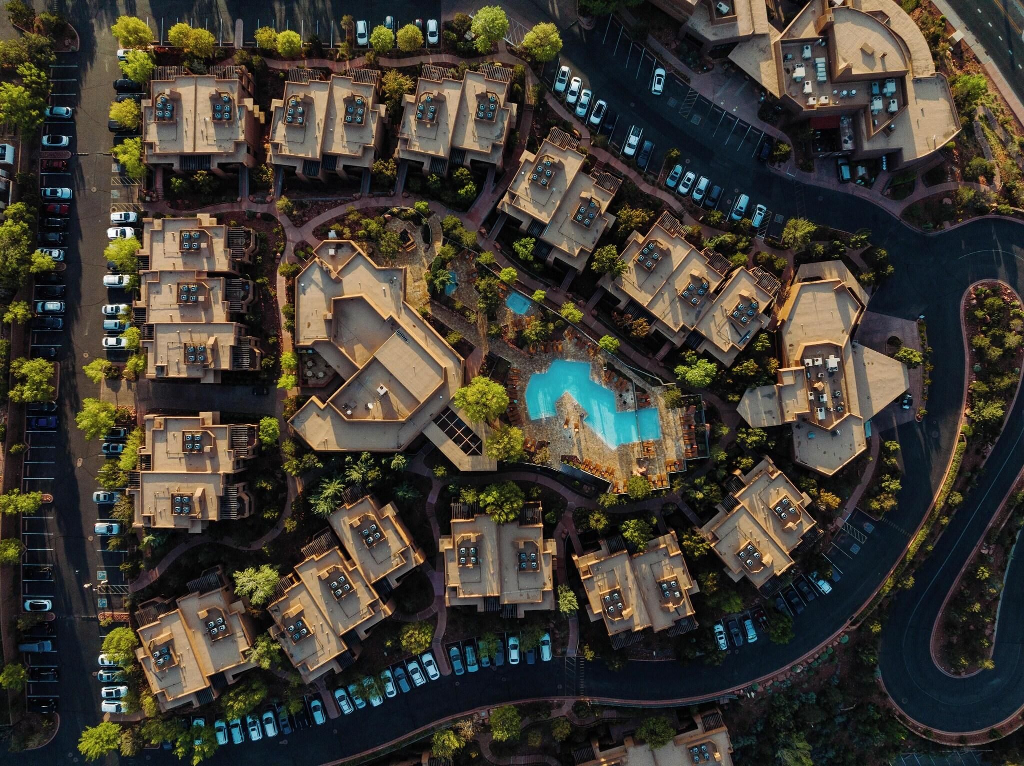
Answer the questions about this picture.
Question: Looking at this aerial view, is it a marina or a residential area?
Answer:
residential area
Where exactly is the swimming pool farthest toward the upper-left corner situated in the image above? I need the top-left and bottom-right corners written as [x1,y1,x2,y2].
[443,269,458,298]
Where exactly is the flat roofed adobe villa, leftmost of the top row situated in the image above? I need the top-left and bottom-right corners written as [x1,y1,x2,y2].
[135,65,268,185]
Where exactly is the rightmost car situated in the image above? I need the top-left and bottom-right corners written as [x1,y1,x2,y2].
[897,389,915,415]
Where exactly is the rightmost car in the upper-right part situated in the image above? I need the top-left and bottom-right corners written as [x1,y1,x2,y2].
[837,158,853,184]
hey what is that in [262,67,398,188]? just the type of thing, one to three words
house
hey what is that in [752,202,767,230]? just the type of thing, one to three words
car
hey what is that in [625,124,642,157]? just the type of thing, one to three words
vehicle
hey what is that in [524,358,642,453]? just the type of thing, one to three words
swimming pool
